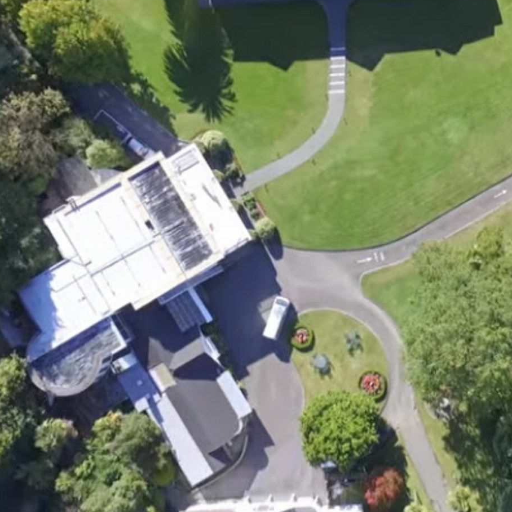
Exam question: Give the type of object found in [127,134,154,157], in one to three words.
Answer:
car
